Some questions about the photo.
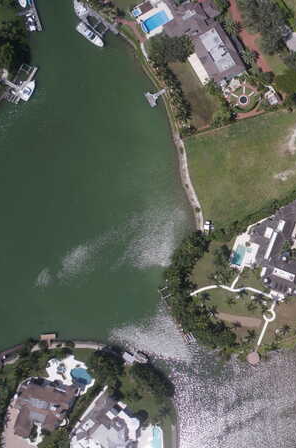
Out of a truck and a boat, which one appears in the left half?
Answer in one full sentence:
What appears in the left half is a boat.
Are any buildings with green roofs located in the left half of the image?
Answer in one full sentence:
No, there's no building with a green roof to be seen in the left half of the image.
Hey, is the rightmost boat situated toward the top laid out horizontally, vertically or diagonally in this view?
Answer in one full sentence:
What the image shows is the rightmost boat situated toward the top lying diagonally.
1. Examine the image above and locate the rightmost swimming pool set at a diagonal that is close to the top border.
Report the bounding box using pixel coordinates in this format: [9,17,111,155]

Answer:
[143,9,171,32]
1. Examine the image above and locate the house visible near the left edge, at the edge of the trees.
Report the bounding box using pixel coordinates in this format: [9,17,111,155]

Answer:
[14,378,81,438]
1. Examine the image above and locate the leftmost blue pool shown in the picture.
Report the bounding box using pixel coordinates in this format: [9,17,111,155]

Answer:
[71,367,93,385]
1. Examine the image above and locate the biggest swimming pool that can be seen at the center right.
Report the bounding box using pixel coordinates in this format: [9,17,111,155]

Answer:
[230,246,248,267]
